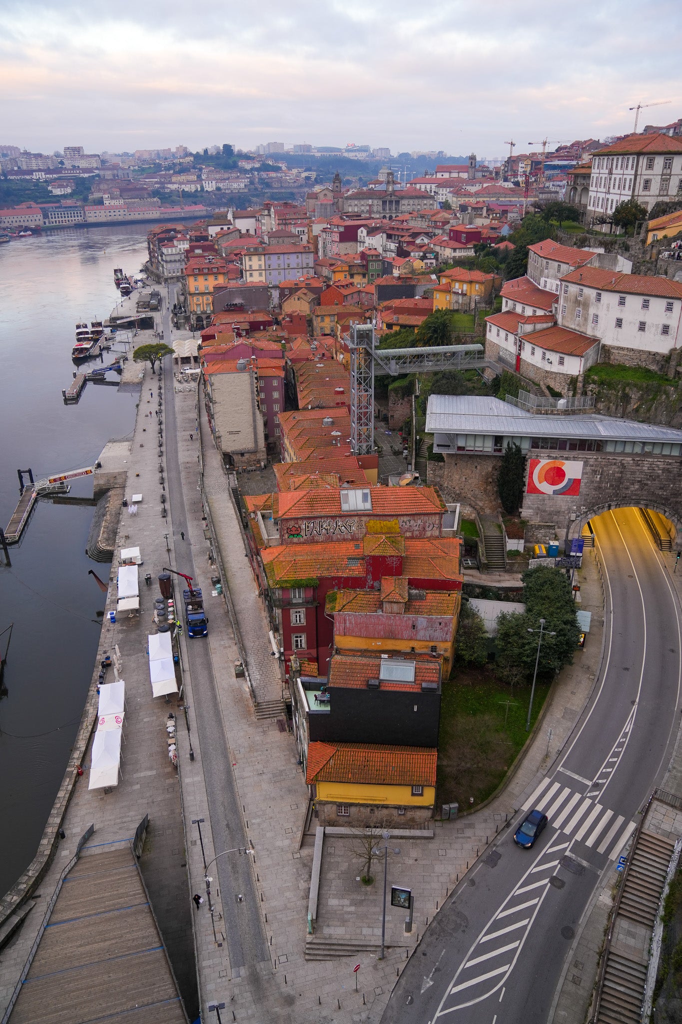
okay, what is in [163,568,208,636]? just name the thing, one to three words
truck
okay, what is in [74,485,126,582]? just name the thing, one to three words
pier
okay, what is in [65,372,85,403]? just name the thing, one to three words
pier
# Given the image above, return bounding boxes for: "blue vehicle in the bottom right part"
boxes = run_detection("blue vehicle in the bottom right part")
[515,805,547,846]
